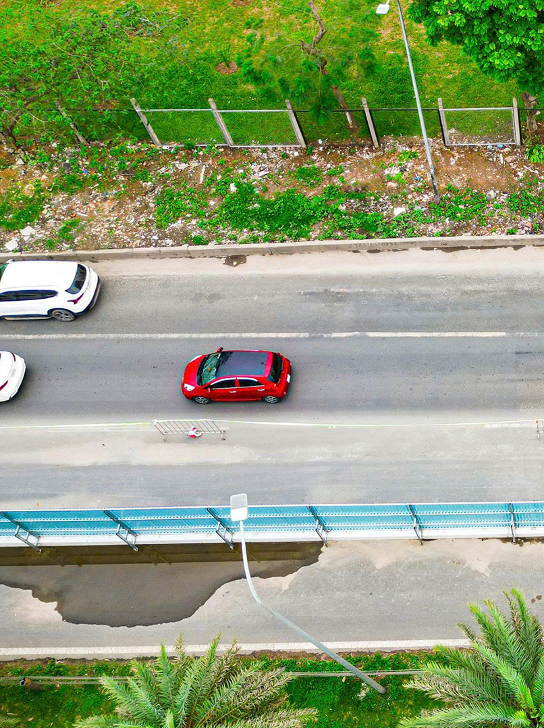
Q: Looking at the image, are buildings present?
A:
No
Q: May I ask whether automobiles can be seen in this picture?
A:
Yes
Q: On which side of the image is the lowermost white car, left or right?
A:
left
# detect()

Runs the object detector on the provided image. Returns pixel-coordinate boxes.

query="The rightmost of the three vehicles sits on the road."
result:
[179,347,292,403]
